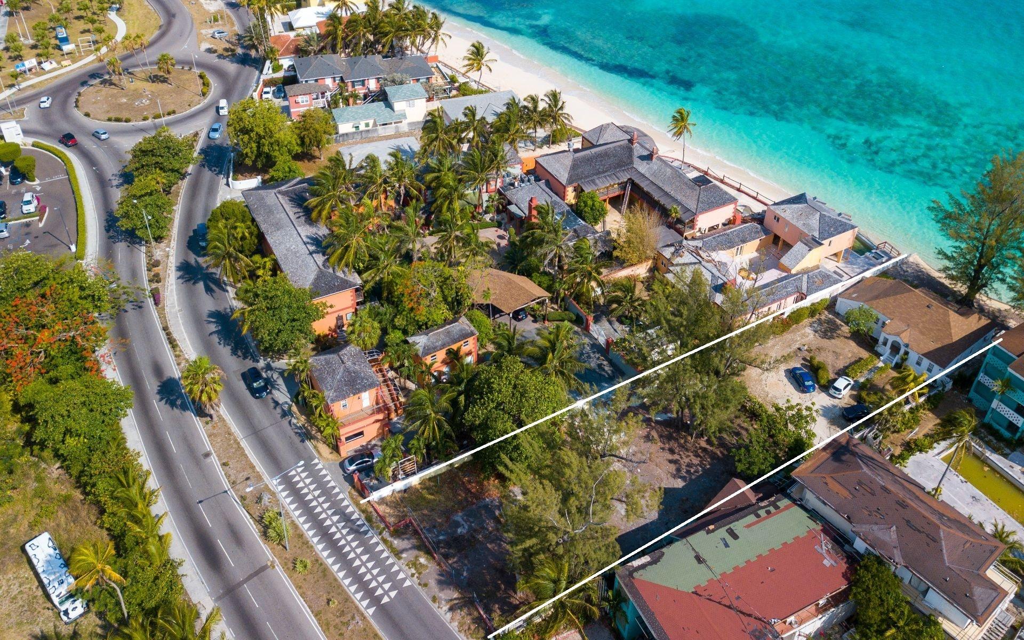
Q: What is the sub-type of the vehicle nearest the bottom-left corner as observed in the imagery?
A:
bus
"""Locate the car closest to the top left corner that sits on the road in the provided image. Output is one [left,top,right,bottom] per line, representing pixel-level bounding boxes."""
[35,95,57,109]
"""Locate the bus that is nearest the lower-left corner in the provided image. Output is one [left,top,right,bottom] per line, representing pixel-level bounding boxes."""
[23,530,90,632]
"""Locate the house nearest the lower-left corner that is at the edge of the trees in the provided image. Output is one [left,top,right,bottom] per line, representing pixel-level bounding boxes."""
[309,344,392,455]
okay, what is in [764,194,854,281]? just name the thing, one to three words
house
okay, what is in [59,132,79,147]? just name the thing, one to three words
car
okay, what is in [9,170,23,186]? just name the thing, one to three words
car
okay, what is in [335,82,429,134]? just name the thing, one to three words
house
